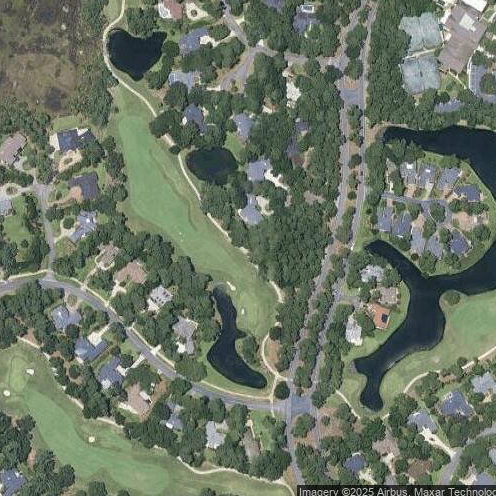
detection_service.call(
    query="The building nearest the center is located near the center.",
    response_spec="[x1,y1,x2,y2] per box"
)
[239,194,265,224]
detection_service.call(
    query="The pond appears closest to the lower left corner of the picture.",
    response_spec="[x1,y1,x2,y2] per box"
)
[207,288,266,389]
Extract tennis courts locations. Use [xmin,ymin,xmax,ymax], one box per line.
[419,56,443,92]
[416,12,439,49]
[398,16,422,52]
[401,59,426,95]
